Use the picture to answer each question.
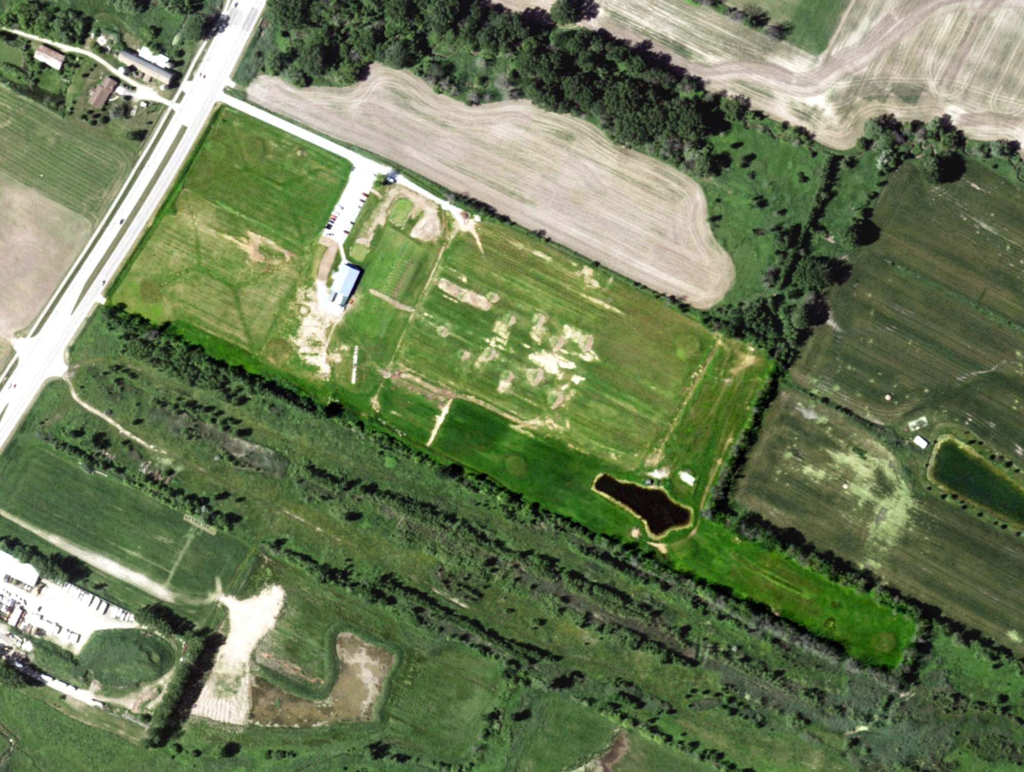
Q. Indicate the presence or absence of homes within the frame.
Yes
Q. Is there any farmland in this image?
Yes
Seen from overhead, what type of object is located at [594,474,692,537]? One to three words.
pond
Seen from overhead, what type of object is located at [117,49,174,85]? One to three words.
barn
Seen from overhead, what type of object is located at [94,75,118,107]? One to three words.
house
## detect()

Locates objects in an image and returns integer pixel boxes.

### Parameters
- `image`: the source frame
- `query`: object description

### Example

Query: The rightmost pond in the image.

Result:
[930,437,1024,526]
